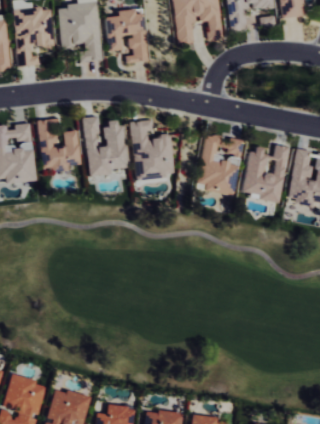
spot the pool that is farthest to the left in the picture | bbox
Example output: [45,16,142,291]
[1,188,24,200]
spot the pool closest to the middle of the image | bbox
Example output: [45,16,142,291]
[144,184,169,198]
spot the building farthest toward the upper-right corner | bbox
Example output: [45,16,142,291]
[280,0,317,18]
